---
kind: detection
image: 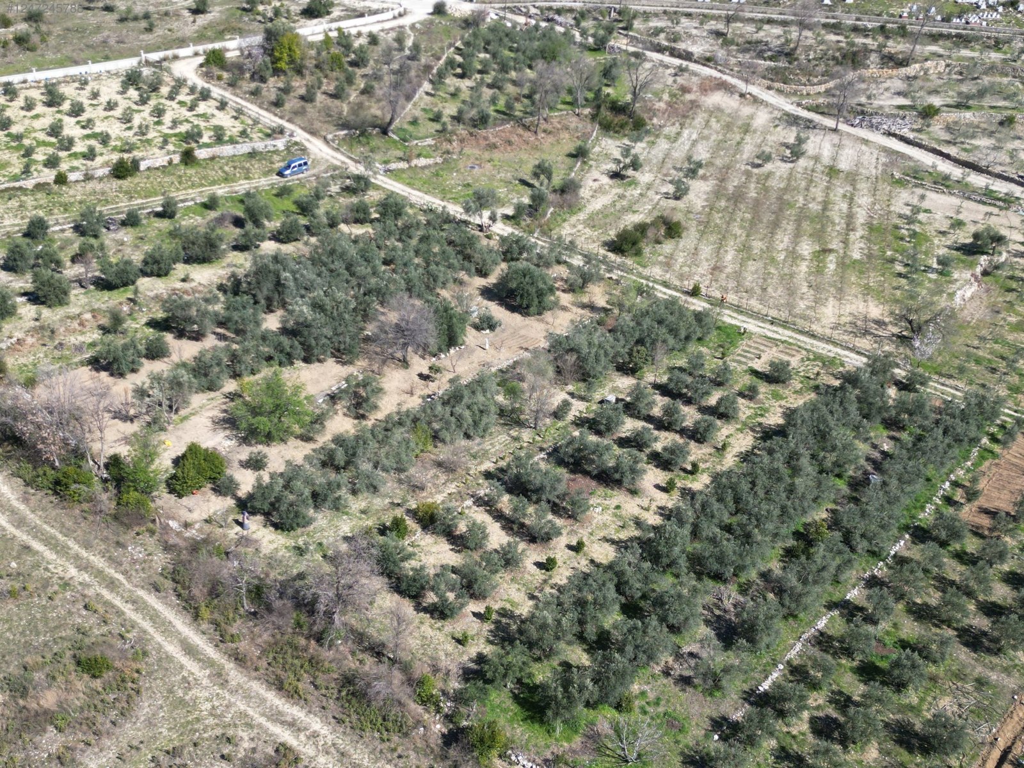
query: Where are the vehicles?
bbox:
[275,155,314,176]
